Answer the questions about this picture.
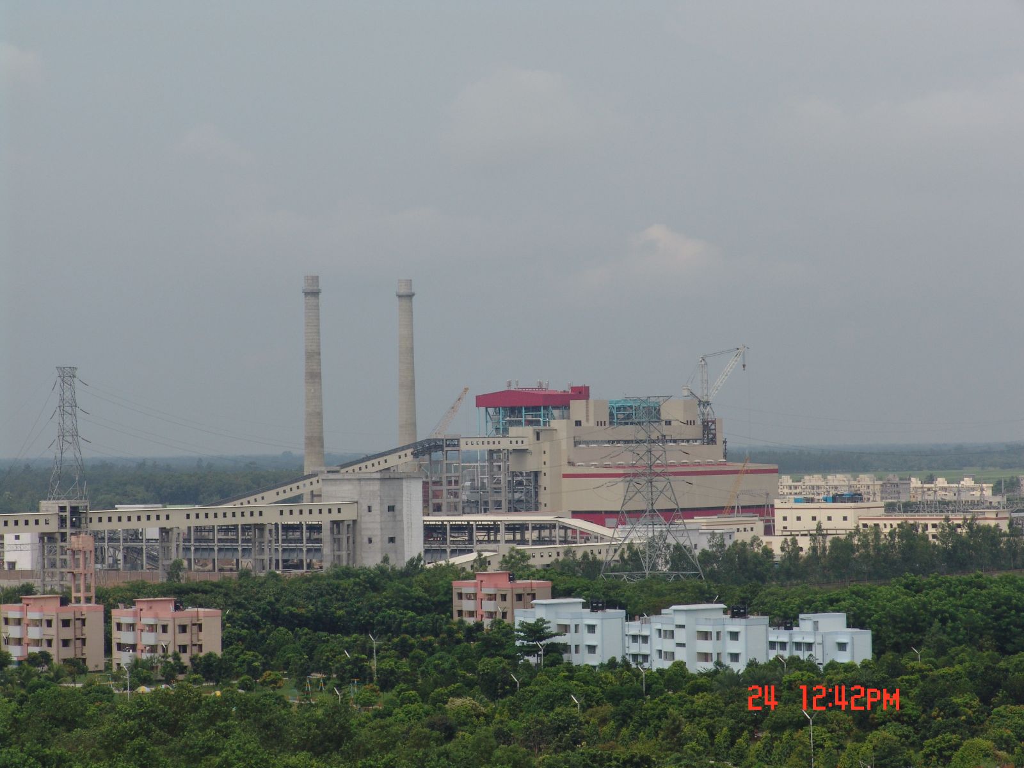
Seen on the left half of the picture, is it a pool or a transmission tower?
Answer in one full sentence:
It is a transmission tower that can be seen on the left half of the picture.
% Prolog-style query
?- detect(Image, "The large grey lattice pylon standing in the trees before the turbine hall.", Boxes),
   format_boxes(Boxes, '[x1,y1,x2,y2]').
[593,396,707,588]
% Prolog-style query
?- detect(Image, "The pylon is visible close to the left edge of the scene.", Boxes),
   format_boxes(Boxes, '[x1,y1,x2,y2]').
[48,367,91,567]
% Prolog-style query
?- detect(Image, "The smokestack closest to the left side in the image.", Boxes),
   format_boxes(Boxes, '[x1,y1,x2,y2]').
[303,275,324,498]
